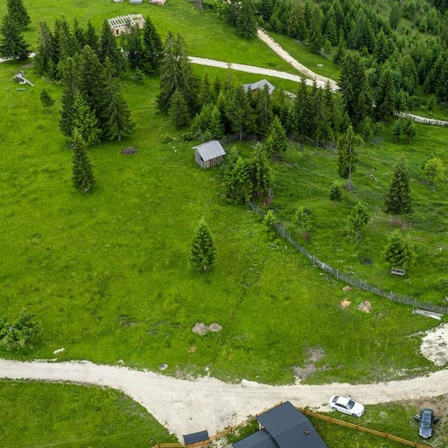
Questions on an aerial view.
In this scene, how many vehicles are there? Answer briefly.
two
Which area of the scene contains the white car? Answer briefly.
bottom right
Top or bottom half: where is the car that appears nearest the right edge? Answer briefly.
bottom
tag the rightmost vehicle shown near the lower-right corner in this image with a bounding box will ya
[411,405,443,440]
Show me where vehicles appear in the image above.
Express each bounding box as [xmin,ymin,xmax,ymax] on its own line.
[327,392,366,418]
[411,405,443,440]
